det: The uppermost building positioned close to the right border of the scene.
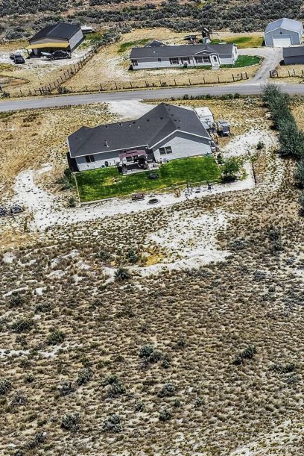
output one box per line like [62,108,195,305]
[263,15,304,47]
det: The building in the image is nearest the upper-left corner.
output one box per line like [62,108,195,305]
[24,23,84,61]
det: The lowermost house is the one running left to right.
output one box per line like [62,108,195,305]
[64,103,214,170]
